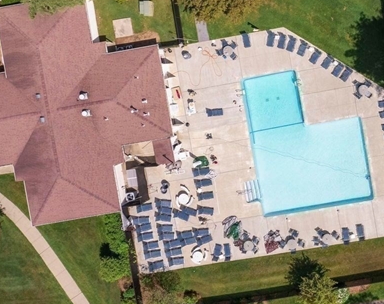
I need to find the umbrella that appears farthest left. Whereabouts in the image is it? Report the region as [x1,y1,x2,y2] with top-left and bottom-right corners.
[193,157,209,169]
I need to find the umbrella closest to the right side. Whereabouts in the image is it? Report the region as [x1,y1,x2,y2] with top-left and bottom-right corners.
[265,235,278,254]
